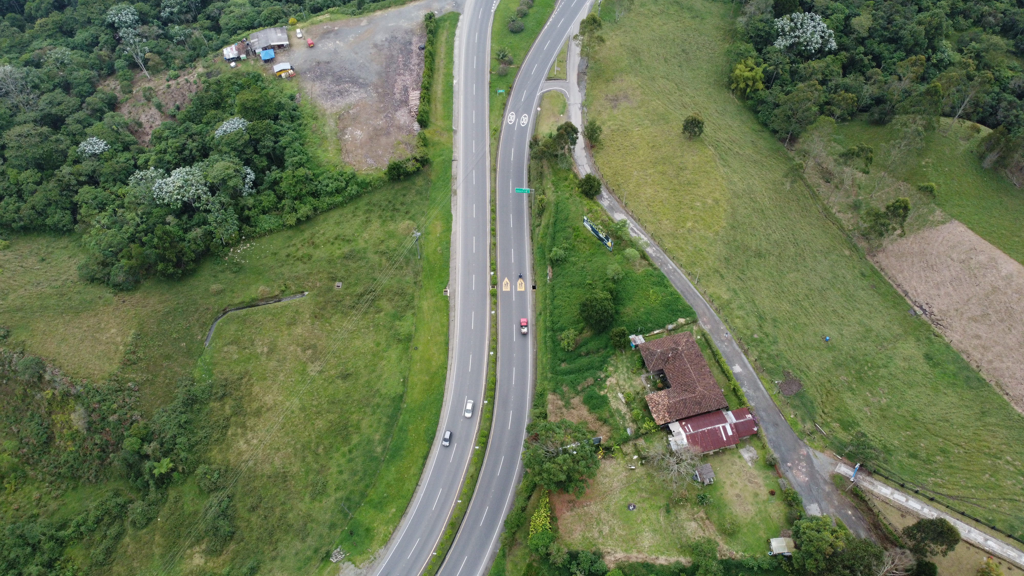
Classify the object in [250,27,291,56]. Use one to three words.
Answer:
shed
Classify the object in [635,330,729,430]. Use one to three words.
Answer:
house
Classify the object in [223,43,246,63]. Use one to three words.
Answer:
shed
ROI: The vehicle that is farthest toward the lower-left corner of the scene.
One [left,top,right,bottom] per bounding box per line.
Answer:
[441,430,453,448]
